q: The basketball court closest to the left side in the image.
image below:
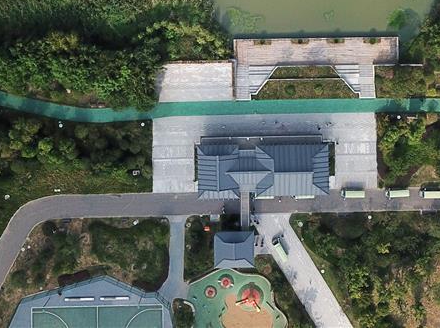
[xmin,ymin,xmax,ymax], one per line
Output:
[32,308,162,328]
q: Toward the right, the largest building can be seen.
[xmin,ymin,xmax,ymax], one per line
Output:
[195,136,335,201]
